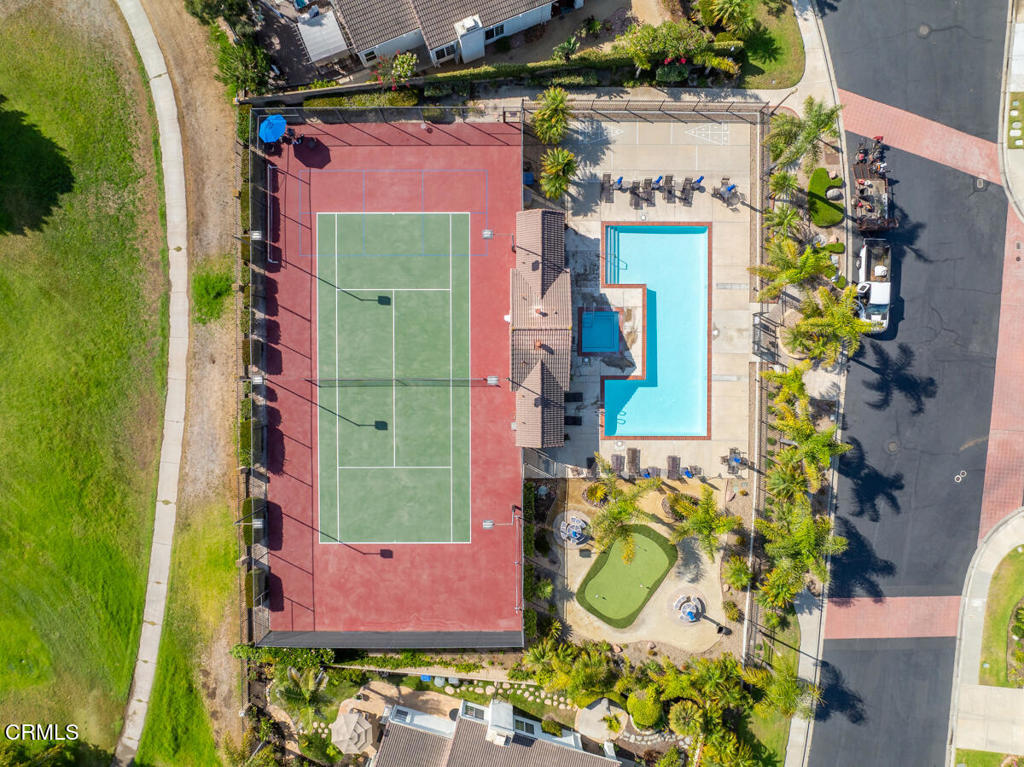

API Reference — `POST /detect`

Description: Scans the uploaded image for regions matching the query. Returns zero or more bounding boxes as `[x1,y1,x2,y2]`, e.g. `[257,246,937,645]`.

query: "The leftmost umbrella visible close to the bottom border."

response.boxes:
[332,707,376,752]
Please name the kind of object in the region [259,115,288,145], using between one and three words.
umbrella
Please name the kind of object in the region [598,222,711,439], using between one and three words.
swimming pool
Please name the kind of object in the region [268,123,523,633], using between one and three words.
tennis court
